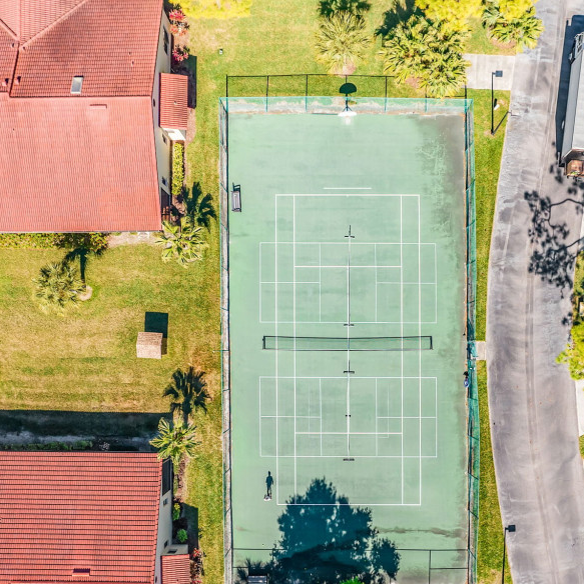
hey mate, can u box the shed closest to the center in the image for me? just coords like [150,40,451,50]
[135,331,168,358]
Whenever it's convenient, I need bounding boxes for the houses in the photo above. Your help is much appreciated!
[0,449,194,584]
[0,0,192,233]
